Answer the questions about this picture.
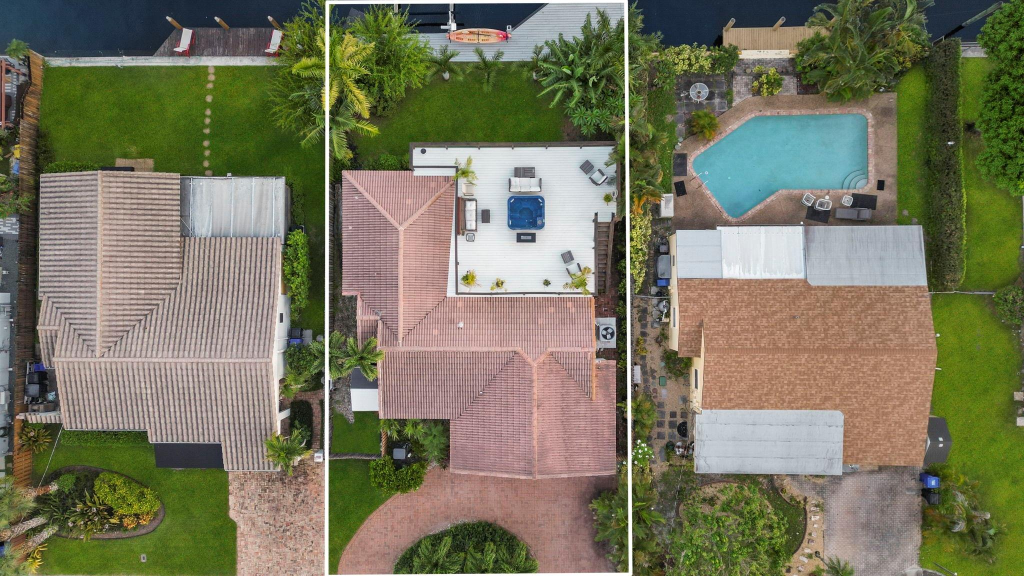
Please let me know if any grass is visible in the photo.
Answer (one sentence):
Yes, grass can be seen from above here.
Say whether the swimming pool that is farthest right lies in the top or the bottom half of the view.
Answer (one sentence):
You can find the swimming pool that is farthest right in the top half.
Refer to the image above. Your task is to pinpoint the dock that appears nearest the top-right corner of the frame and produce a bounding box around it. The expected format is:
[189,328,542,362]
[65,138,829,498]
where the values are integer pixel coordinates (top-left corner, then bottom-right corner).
[723,27,803,49]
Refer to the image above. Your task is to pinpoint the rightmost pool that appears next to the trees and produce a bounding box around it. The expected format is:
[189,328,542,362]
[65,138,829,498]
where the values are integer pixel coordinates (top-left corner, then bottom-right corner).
[686,108,874,224]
